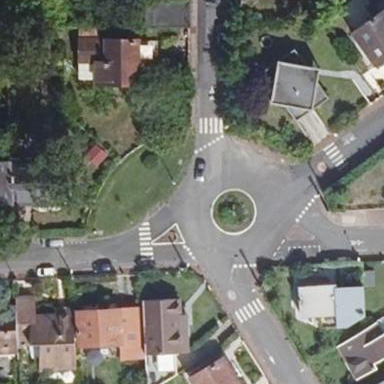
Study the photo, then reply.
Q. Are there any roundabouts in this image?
Yes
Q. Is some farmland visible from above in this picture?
No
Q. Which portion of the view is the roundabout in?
center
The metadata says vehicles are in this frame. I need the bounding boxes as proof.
[41,238,63,248]
[92,262,114,272]
[36,266,56,276]
[194,158,206,180]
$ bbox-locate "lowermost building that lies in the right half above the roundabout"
[273,61,328,119]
